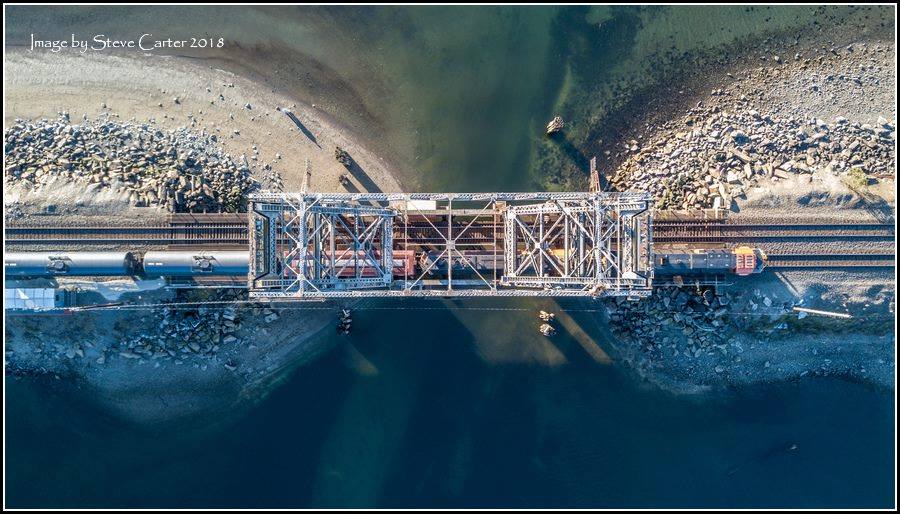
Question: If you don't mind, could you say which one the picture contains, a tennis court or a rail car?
rail car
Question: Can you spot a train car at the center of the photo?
Yes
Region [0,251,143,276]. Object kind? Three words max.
rail car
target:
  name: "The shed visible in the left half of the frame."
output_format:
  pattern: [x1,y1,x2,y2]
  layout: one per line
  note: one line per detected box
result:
[0,287,84,316]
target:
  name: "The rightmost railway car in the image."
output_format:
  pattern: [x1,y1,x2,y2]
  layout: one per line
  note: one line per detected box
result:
[582,248,766,275]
